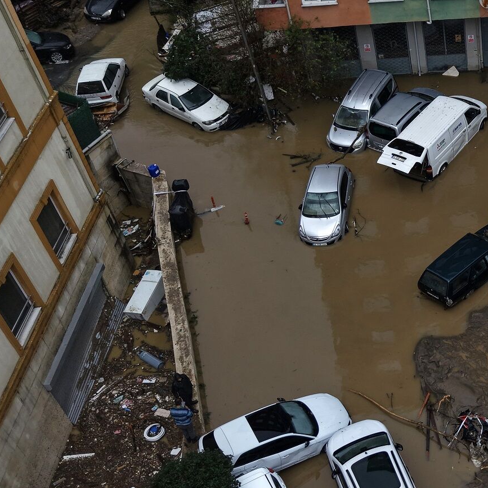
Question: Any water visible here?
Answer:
Yes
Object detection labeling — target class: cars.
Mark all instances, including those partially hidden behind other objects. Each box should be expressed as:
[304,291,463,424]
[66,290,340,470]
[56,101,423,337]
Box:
[79,53,135,100]
[334,70,399,149]
[20,13,80,56]
[423,225,488,309]
[152,79,228,129]
[296,167,352,244]
[328,428,413,488]
[86,0,123,19]
[202,385,350,479]
[368,93,441,153]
